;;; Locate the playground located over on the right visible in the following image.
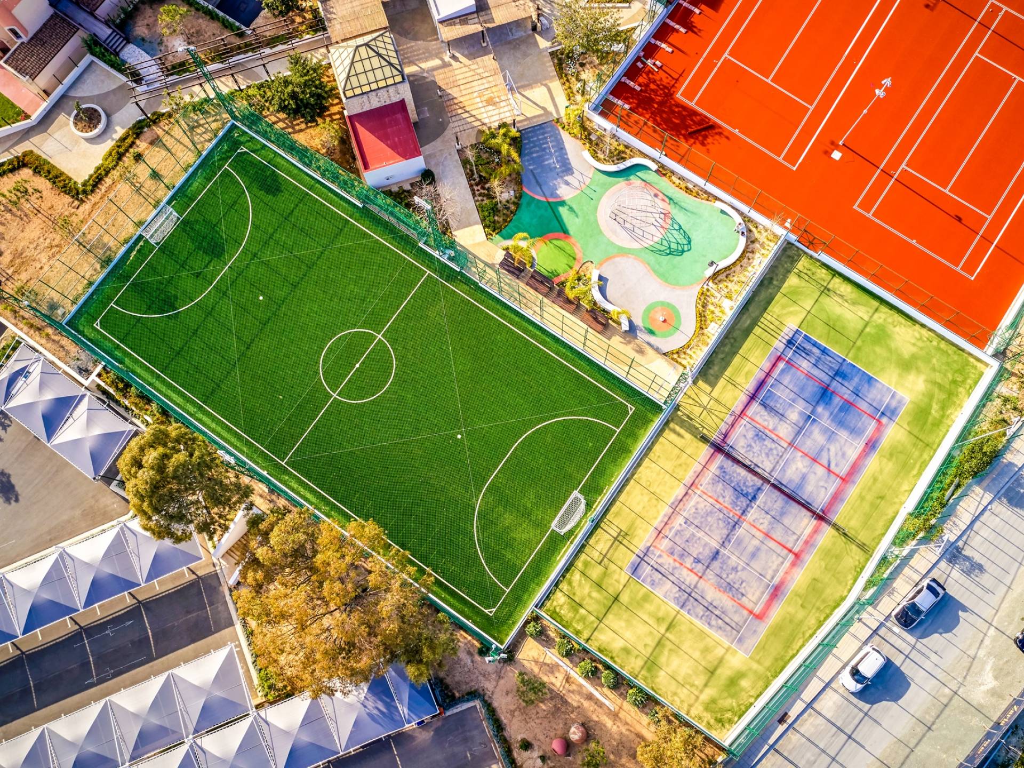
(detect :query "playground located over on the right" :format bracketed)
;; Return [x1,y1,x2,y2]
[491,120,739,353]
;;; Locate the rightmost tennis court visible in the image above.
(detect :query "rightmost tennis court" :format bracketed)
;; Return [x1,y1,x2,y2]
[791,0,1024,354]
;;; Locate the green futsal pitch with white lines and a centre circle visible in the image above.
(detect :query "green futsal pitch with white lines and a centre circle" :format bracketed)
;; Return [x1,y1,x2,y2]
[62,122,666,649]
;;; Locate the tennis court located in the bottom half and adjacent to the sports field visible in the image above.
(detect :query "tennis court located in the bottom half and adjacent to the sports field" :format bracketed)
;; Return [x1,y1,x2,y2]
[541,242,999,743]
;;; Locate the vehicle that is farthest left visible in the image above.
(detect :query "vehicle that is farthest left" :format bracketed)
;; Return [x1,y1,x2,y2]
[836,640,890,694]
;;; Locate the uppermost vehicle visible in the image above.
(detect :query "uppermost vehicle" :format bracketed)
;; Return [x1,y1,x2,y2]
[889,576,950,629]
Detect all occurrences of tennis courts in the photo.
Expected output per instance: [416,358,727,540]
[541,242,999,743]
[593,0,947,234]
[791,0,1024,354]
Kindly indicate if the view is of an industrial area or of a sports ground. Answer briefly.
sports ground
